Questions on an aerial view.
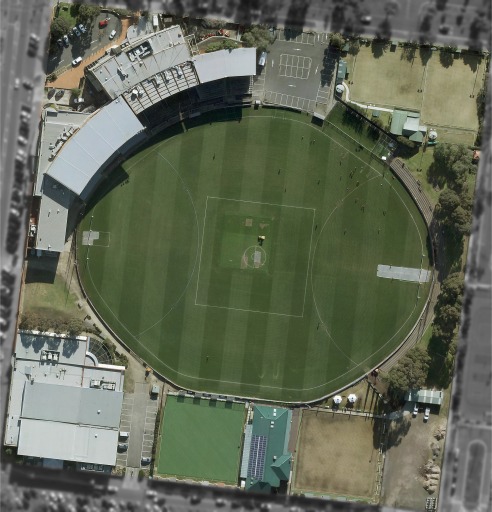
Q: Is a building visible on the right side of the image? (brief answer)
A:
Yes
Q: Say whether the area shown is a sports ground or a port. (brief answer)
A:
sports ground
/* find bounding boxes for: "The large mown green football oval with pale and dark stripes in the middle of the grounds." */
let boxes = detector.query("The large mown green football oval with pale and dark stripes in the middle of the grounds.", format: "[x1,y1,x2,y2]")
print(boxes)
[76,104,434,402]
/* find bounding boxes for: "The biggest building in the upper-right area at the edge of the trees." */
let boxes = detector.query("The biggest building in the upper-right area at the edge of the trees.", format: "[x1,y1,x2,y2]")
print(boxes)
[390,110,426,142]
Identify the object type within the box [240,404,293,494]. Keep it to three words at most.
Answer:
building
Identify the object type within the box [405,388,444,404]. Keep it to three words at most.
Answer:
shed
